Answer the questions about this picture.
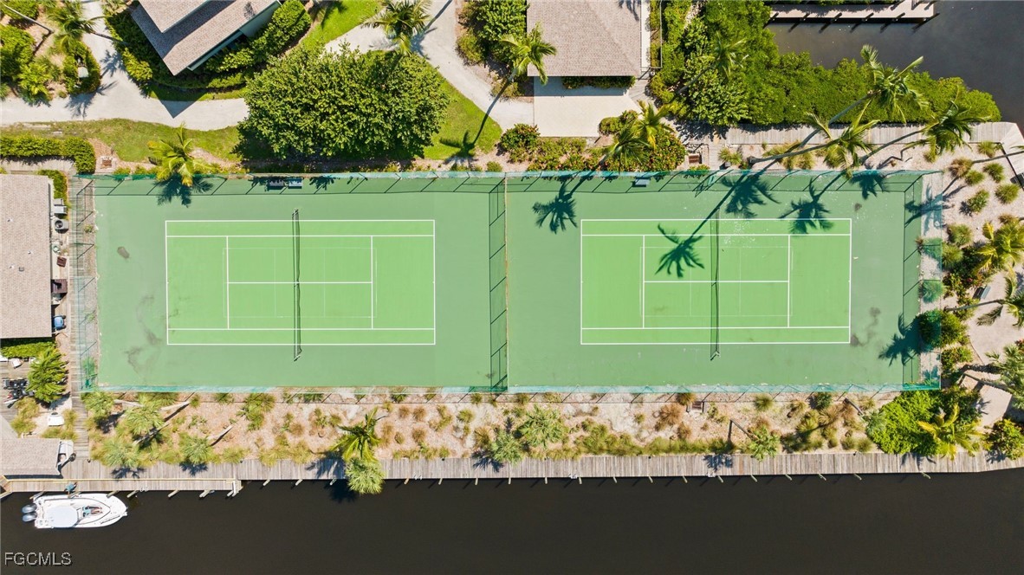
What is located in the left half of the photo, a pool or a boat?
boat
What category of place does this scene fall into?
sports ground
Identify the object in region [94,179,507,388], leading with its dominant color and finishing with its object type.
green tennis court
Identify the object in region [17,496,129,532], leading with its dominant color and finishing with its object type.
white boat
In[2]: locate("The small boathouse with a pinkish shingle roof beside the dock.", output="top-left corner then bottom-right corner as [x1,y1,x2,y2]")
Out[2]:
[0,437,63,476]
